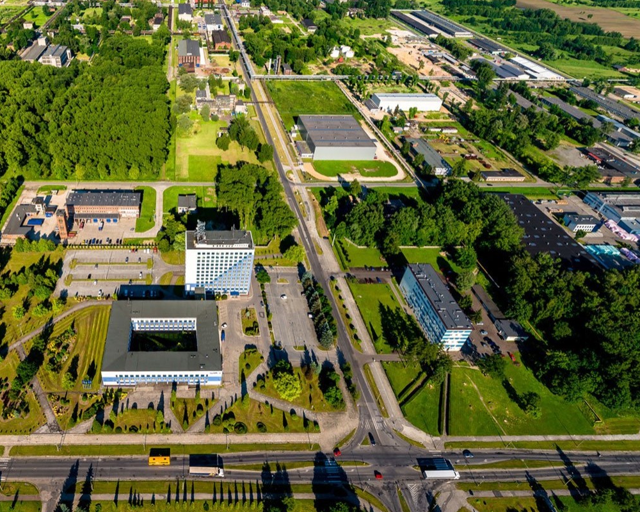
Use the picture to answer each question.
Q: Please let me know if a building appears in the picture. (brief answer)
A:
Yes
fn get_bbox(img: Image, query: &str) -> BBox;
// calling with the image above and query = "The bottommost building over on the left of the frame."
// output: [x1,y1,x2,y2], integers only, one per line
[99,297,224,396]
